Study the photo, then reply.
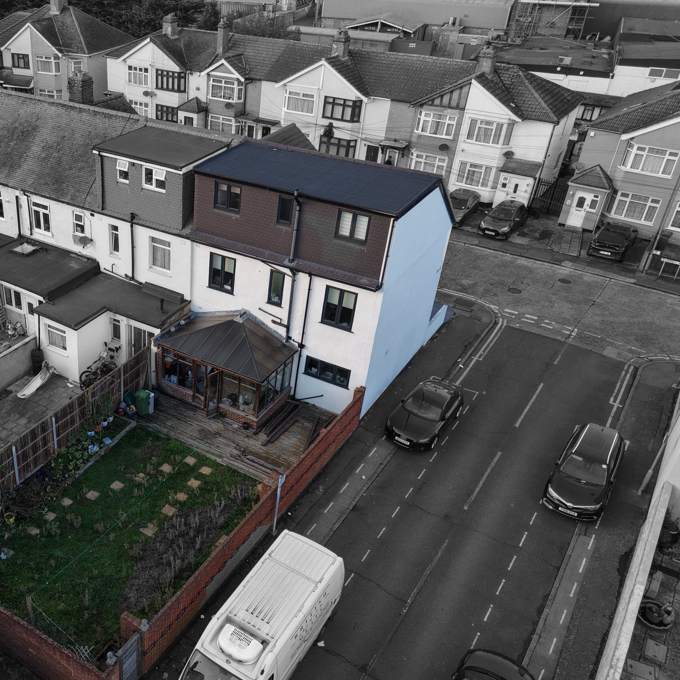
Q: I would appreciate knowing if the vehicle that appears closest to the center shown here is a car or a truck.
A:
car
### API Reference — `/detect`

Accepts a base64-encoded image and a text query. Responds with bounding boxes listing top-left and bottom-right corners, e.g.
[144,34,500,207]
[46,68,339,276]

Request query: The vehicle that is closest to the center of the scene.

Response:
[382,375,467,455]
